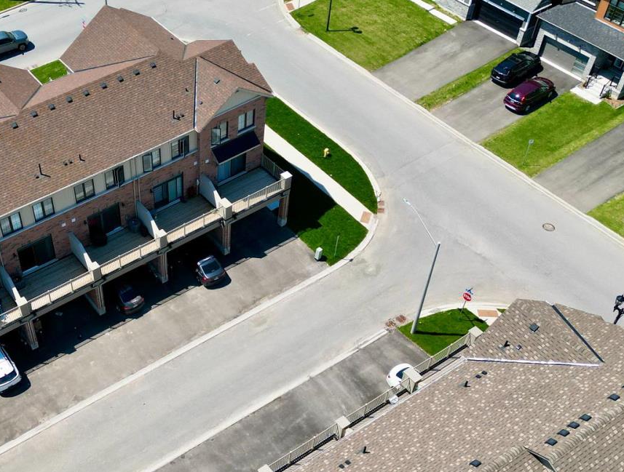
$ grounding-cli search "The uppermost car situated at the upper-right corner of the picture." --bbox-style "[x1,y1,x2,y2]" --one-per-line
[489,53,546,88]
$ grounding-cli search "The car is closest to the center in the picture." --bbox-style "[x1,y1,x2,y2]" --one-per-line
[170,238,227,285]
